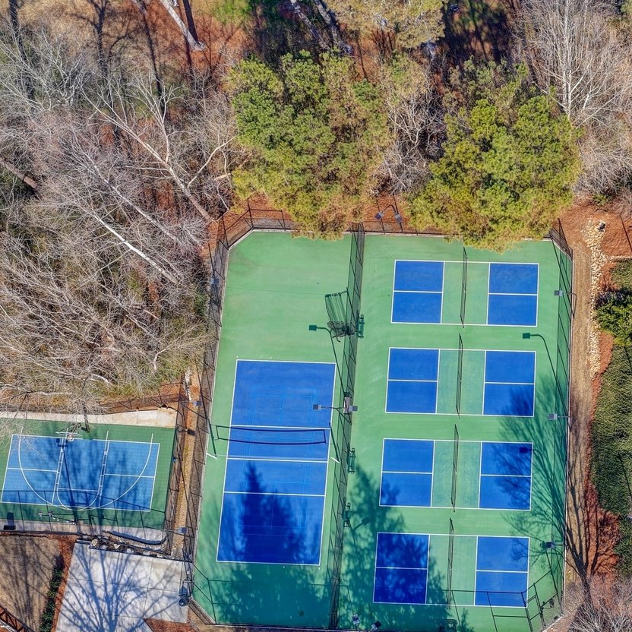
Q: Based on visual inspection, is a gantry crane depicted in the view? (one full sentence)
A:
No, I can't see a single gantry crane in this photo.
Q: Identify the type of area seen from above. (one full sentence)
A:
It's a sports ground.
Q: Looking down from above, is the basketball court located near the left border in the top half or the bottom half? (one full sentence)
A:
The basketball court located near the left border sits in the bottom half of the picture.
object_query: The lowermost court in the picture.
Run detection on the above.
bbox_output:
[337,518,564,632]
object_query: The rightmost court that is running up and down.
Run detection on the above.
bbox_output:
[194,230,365,628]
